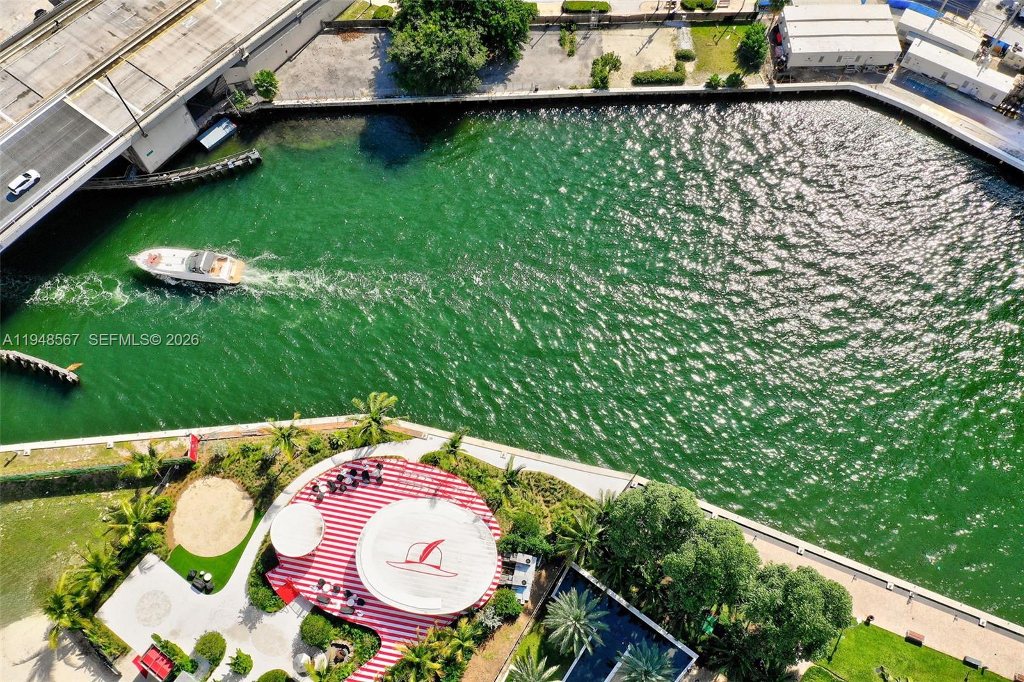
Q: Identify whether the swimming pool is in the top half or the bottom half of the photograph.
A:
bottom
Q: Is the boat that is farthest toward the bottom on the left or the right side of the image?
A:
left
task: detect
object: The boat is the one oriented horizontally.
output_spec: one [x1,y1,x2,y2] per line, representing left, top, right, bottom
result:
[128,247,248,286]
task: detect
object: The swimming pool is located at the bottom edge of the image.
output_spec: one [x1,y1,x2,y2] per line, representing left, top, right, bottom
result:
[552,564,698,682]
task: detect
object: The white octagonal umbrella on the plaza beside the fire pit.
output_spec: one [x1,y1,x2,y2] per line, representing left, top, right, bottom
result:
[292,650,316,676]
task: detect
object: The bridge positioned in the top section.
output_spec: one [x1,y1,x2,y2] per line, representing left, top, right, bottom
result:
[0,0,356,257]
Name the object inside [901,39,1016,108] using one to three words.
trailer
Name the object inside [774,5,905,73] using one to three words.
trailer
